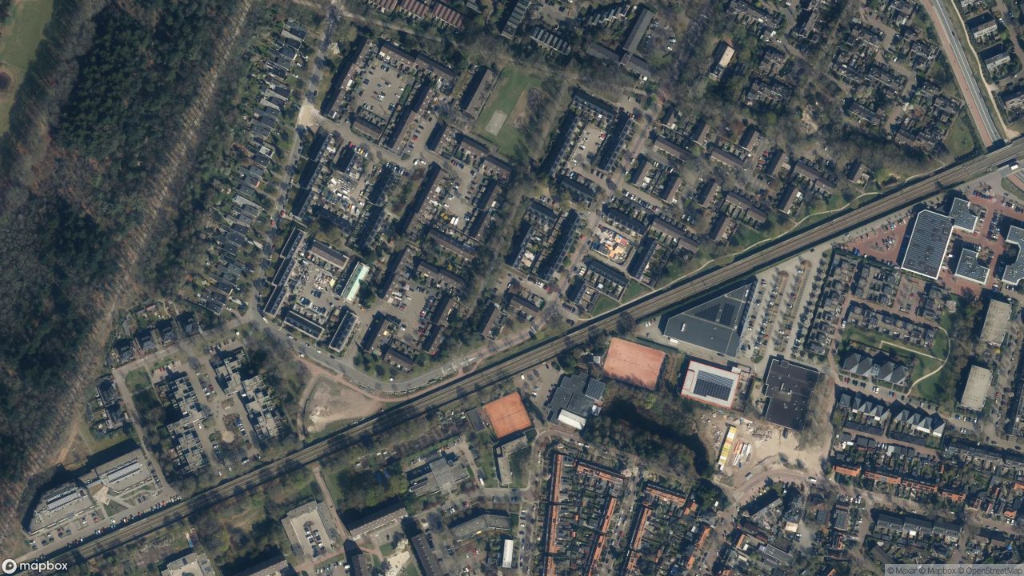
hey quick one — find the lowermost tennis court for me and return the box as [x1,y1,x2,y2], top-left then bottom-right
[482,392,532,438]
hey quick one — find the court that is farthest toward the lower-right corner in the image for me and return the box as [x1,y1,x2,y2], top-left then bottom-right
[604,337,666,389]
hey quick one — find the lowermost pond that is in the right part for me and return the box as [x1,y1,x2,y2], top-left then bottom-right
[616,399,709,473]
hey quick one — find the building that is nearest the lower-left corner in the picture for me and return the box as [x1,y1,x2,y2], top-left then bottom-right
[24,482,96,536]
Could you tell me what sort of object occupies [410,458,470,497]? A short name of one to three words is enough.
building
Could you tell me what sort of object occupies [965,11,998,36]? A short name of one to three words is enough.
house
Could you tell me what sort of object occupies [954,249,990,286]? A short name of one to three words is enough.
building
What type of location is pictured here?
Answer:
residential area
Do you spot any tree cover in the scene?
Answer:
Yes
